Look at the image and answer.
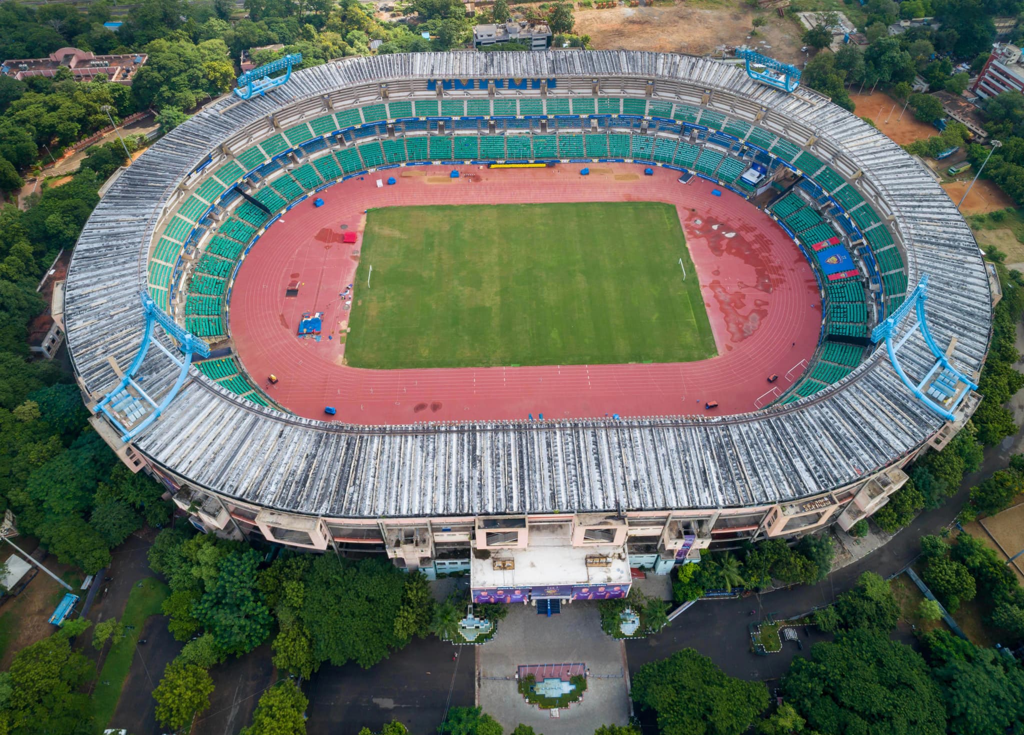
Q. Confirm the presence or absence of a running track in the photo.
Yes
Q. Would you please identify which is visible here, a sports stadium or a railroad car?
sports stadium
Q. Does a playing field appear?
Yes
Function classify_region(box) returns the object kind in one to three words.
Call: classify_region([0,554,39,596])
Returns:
tent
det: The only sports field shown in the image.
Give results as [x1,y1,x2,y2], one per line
[345,199,717,369]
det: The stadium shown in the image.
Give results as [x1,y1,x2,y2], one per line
[45,45,1007,588]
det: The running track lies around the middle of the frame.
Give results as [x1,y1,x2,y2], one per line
[228,164,824,425]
